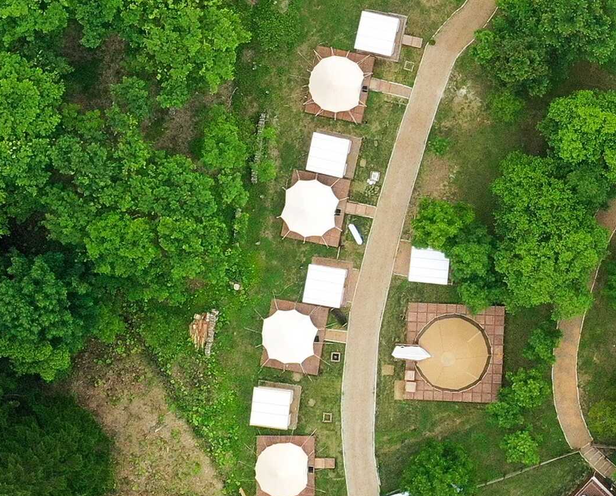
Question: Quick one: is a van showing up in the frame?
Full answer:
No, no van can be seen from above.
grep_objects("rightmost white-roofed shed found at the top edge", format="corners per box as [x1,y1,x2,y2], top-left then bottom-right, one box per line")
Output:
[354,11,407,61]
